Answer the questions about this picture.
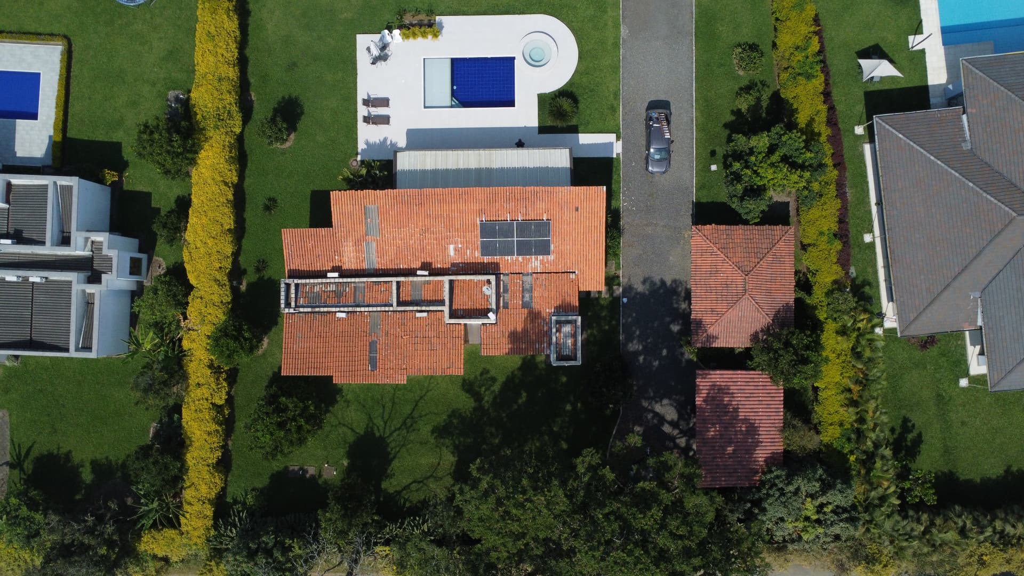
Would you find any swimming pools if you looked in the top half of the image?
Yes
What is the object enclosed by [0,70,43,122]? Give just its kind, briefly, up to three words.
swimming pool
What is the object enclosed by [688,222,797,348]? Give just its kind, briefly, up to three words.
building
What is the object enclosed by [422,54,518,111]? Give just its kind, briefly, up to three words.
swimming pool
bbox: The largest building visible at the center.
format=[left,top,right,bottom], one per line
[281,186,606,387]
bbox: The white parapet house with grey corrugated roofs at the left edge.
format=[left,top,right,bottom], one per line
[0,174,148,357]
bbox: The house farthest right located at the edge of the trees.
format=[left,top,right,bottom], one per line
[866,50,1024,394]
